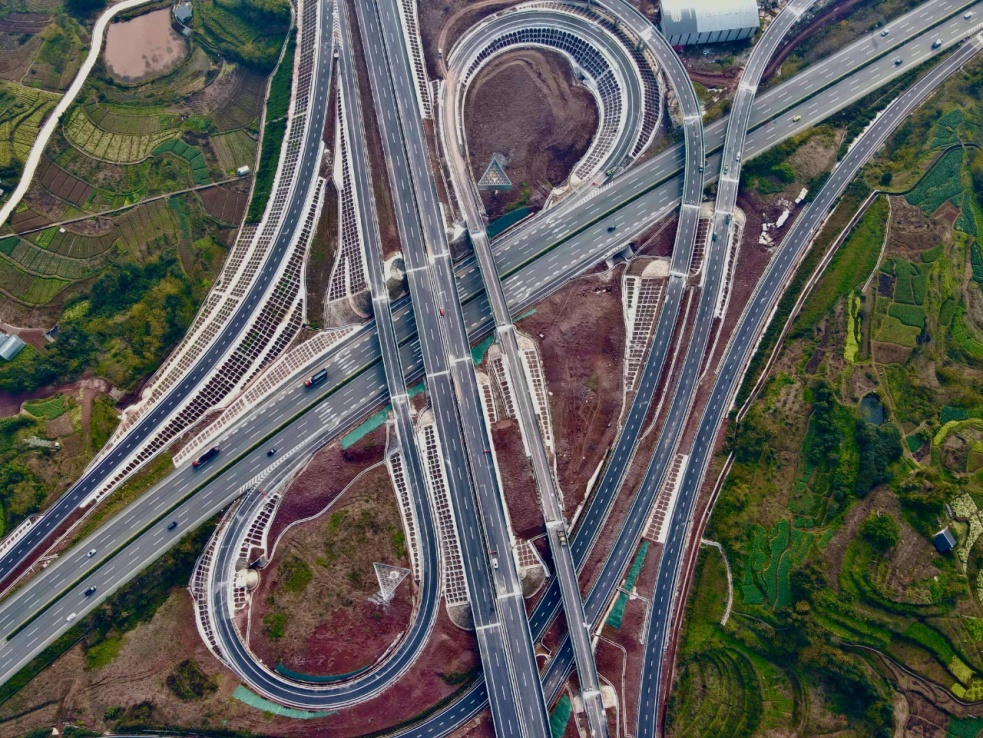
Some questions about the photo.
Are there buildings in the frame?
Yes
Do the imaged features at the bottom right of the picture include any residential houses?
Yes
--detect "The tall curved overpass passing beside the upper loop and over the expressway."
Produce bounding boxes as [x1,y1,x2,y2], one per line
[594,0,705,274]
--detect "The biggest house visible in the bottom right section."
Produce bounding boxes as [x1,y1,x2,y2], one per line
[932,529,963,555]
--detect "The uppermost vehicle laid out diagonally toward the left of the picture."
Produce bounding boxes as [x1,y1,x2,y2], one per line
[304,368,327,386]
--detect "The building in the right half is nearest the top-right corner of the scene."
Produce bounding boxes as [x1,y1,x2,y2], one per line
[663,0,760,47]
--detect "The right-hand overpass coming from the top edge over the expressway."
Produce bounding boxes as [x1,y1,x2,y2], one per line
[715,0,816,214]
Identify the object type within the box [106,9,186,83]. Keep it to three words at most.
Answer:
pond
